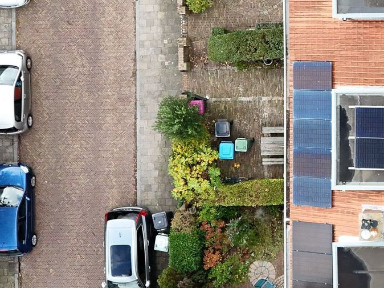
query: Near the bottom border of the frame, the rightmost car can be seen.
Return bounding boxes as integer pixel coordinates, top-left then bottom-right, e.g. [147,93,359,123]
[97,204,155,288]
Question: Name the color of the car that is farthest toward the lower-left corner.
blue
